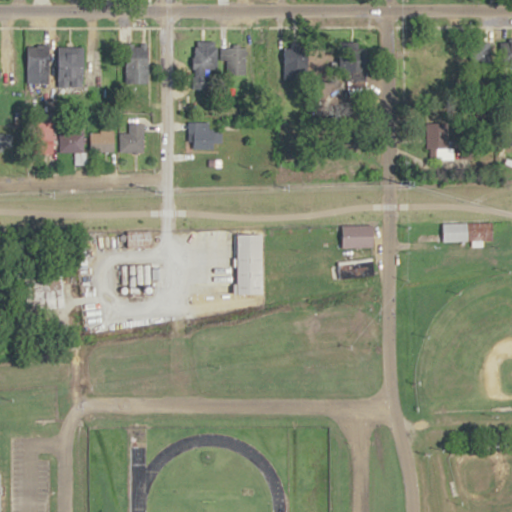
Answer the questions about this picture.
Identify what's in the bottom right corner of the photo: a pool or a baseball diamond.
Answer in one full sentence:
There is a baseball diamond in the bottom right corner of the photo.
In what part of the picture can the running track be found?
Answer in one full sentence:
The running track is located in the bottom region of the scene.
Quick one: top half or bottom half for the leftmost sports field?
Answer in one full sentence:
The bottom half of the photo is where the leftmost sports field is.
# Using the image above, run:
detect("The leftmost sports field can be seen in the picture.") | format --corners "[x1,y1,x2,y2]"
[147,447,274,512]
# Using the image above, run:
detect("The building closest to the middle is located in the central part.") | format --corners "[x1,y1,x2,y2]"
[234,234,264,296]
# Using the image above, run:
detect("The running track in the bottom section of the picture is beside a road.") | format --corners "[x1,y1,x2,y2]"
[130,428,286,512]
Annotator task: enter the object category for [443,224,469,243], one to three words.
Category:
barn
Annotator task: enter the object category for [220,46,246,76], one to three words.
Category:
house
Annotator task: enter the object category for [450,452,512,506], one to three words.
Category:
baseball field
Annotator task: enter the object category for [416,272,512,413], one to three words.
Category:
baseball field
